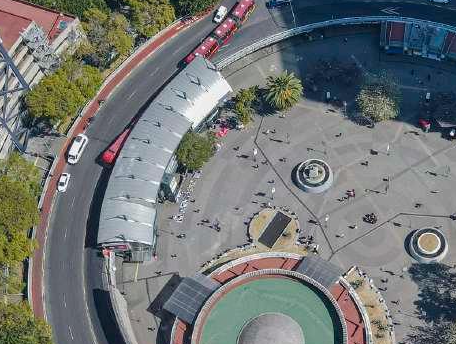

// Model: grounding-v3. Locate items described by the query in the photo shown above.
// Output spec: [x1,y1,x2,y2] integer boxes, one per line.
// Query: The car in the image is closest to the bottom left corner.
[57,173,71,193]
